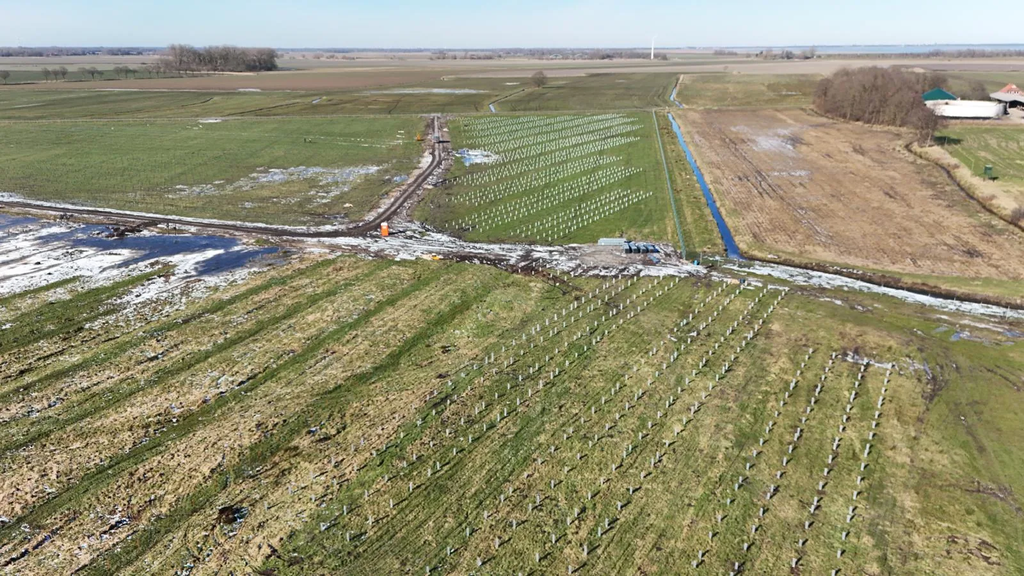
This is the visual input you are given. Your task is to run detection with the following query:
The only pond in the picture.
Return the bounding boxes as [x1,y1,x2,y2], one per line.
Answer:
[0,217,285,279]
